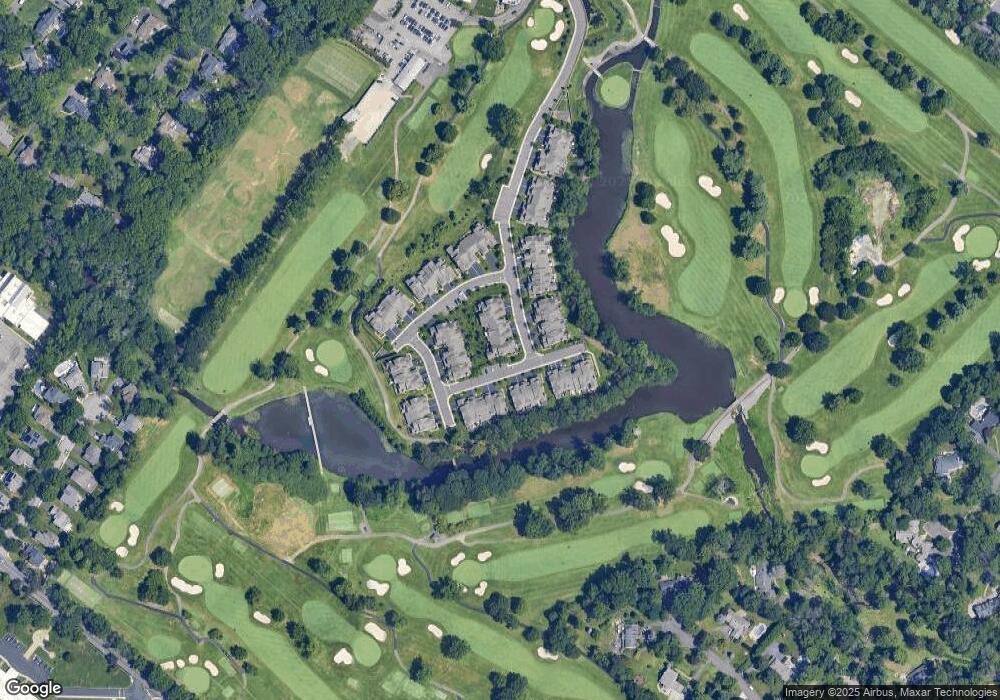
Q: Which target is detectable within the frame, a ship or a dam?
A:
dam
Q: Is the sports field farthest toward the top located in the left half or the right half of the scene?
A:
left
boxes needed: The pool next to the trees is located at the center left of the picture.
[54,360,73,376]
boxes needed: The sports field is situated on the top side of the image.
[304,35,386,101]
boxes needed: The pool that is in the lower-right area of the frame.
[751,624,767,640]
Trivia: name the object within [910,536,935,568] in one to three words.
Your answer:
house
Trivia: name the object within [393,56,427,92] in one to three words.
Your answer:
barn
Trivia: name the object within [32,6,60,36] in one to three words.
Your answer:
house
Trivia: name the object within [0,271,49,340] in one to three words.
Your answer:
building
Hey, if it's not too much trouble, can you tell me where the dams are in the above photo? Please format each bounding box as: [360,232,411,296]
[703,374,771,448]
